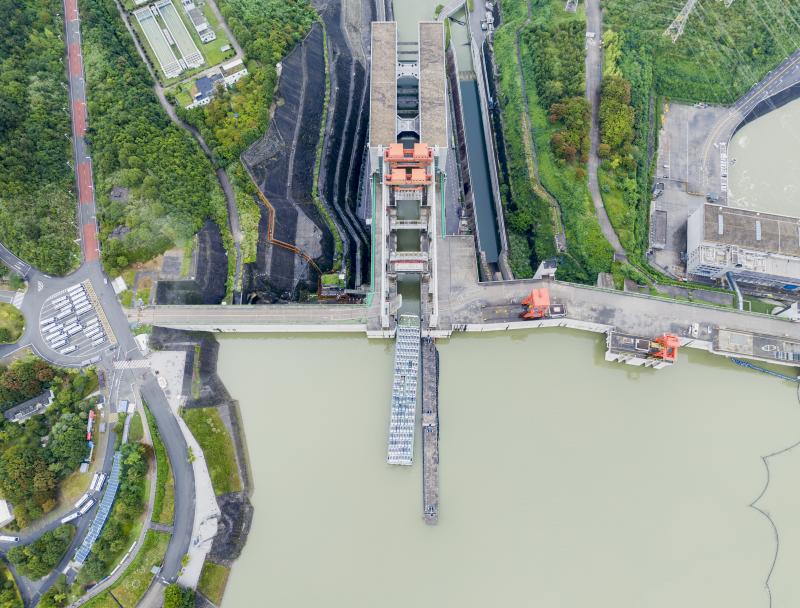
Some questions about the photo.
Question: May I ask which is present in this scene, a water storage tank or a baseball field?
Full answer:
Of the two, only a water storage tank appears.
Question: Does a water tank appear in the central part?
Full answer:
No, I see no water tank in the central part.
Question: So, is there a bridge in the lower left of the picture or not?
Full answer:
No, no bridge appears in the lower left of the picture.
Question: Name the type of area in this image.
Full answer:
This looks like a port.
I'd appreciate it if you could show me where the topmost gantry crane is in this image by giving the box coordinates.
[380,140,437,173]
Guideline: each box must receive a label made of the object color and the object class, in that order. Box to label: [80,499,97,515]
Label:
white vehicle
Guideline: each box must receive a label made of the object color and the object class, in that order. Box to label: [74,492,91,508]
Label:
white vehicle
